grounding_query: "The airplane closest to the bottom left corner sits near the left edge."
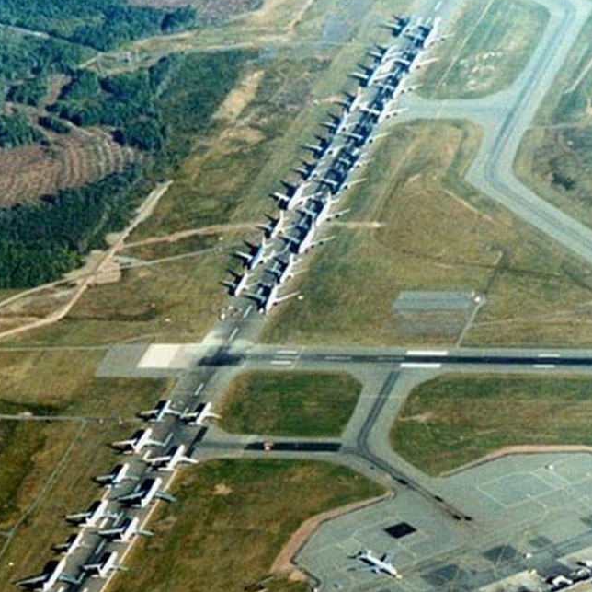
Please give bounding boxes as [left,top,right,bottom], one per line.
[20,557,80,587]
